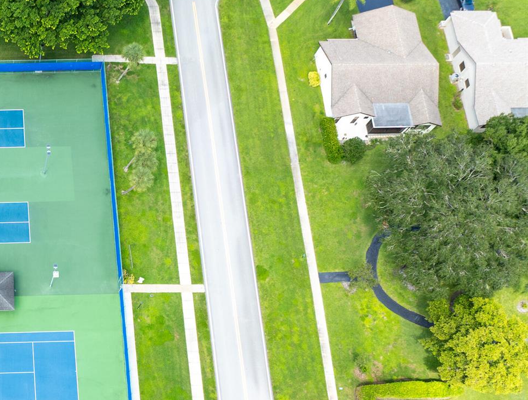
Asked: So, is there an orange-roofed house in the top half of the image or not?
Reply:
No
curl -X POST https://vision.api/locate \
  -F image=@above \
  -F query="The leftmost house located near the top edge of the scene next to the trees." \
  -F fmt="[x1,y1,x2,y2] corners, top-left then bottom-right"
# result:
[316,5,443,143]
